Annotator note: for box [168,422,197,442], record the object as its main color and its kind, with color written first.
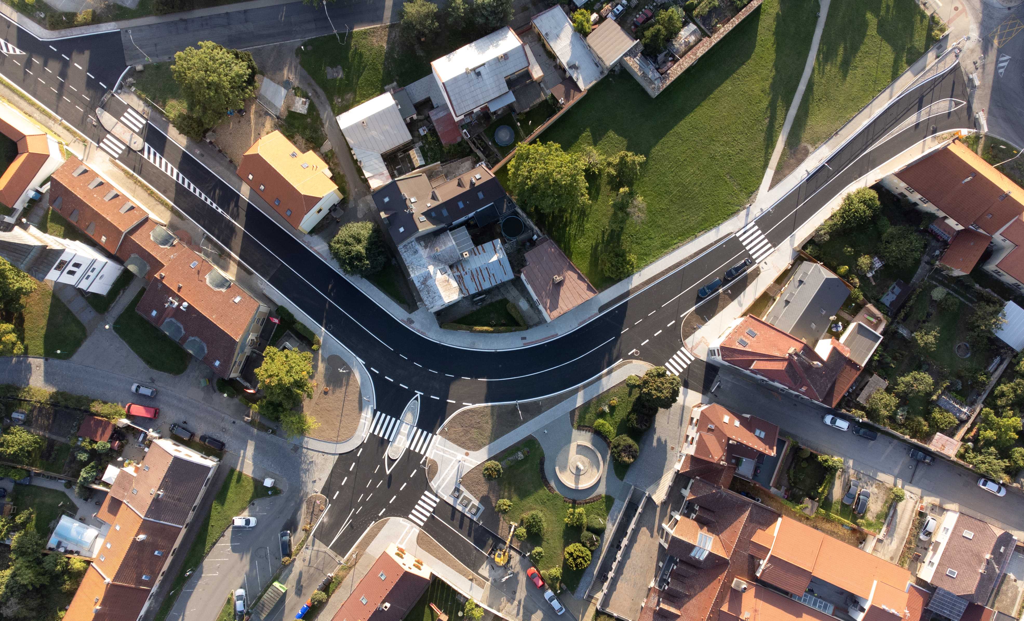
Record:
black car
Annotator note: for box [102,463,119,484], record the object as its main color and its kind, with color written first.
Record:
white gazebo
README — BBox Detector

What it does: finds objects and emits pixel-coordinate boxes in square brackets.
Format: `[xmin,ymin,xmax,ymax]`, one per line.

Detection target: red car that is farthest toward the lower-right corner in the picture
[526,565,545,591]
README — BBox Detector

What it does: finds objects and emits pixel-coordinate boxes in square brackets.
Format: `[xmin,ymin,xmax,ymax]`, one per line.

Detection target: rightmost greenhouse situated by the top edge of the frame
[668,20,701,57]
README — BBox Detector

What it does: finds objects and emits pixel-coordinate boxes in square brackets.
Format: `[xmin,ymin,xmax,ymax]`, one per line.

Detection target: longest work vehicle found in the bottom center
[491,528,515,572]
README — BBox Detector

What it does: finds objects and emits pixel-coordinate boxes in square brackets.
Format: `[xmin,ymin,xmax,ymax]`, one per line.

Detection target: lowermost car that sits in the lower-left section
[233,588,248,615]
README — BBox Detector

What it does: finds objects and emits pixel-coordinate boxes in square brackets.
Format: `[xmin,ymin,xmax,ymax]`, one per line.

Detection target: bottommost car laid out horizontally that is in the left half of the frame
[232,516,258,528]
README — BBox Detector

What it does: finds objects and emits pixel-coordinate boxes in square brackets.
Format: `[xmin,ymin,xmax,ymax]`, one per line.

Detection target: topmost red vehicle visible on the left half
[126,402,161,419]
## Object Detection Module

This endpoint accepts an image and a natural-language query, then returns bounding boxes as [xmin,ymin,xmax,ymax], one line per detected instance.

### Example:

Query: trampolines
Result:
[494,126,514,147]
